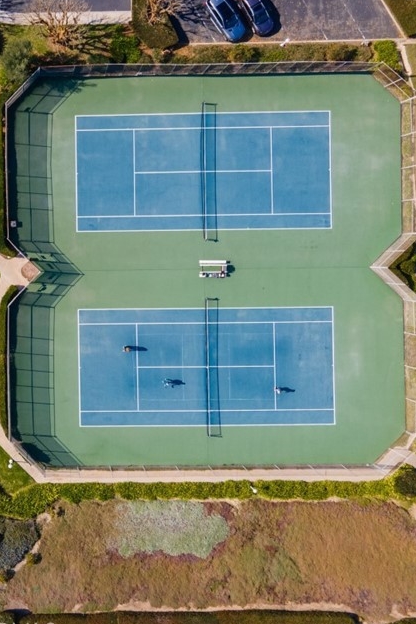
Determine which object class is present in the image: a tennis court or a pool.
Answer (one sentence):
It is a tennis court that can be seen here.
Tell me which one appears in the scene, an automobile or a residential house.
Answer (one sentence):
Looking from above, you can make out an automobile.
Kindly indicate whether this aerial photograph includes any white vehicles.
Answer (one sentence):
No, I find no white vehicle anywhere in the image.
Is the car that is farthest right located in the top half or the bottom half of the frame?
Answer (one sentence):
You can find the car that is farthest right in the top half.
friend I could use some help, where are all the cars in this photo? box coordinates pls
[206,0,244,44]
[239,0,272,39]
